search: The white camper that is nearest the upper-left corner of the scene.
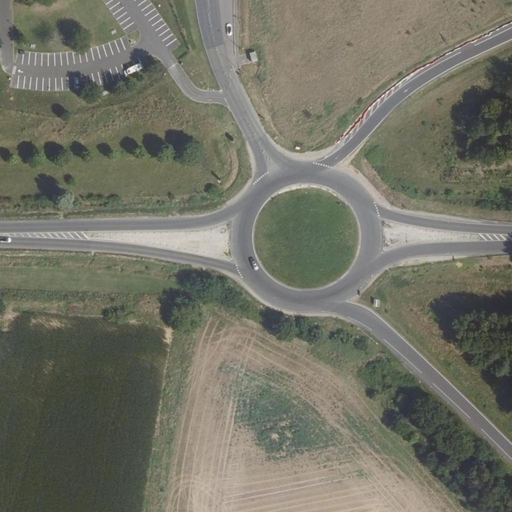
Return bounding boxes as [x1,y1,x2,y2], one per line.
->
[123,63,142,76]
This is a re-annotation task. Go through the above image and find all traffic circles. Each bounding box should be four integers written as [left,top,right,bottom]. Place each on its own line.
[214,162,382,314]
